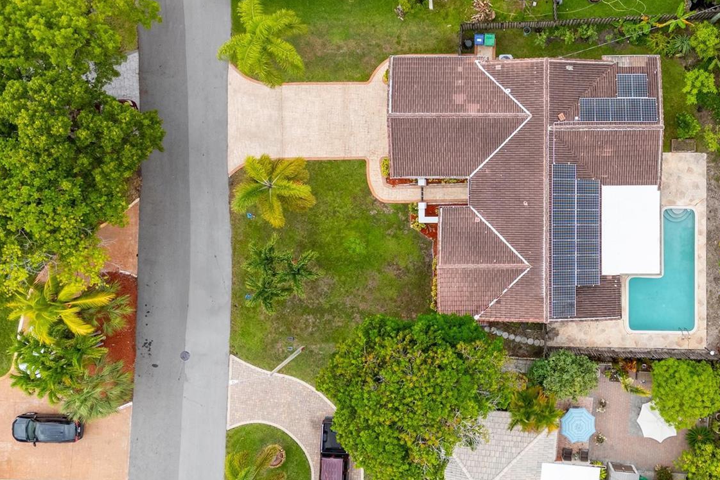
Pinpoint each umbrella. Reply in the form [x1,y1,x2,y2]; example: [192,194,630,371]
[560,405,595,440]
[631,396,677,445]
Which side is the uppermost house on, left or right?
right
